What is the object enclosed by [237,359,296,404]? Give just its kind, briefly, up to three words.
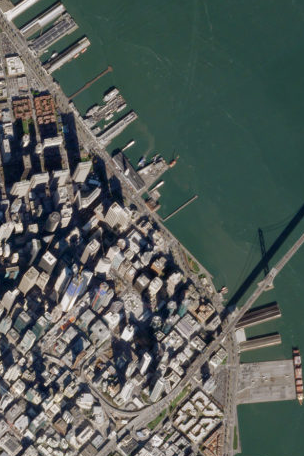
pier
